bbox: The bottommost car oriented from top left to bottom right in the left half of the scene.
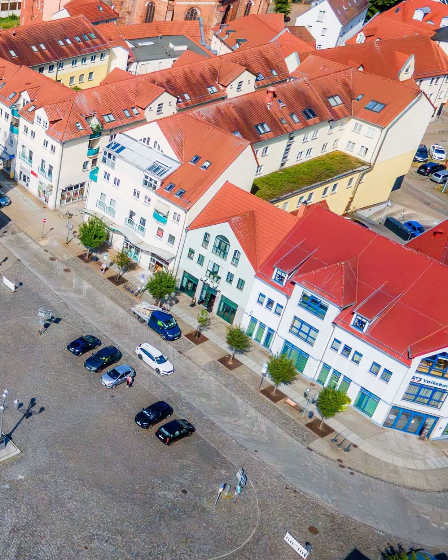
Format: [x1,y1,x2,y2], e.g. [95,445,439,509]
[133,342,175,376]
